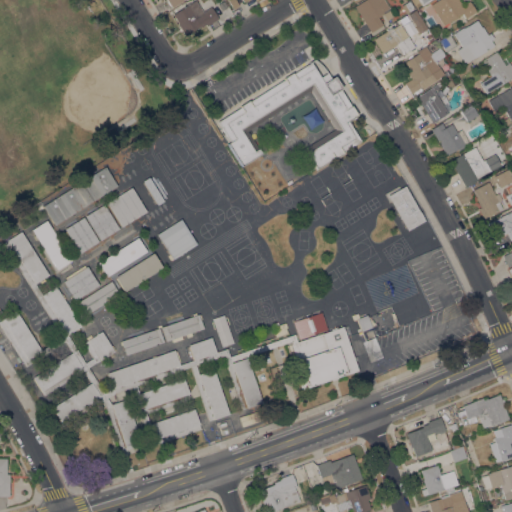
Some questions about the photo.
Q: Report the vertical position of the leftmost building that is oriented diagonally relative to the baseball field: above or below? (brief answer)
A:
below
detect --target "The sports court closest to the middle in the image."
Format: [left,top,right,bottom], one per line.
[226,236,267,279]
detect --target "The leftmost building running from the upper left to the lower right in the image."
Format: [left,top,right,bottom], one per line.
[0,314,42,367]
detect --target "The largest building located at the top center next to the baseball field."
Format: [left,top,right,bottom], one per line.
[220,61,362,168]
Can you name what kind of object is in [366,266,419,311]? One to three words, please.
sports court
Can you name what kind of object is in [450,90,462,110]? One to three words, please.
swimming pool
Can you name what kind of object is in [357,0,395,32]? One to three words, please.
house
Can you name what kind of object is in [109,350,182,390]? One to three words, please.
building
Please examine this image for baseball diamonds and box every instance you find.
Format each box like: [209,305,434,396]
[0,0,177,236]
